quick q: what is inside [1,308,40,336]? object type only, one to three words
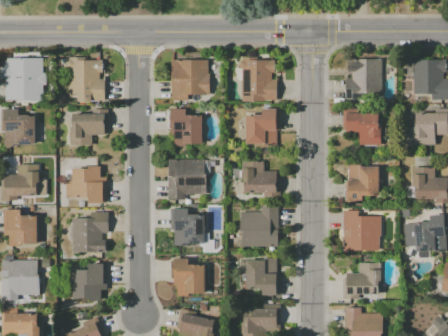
house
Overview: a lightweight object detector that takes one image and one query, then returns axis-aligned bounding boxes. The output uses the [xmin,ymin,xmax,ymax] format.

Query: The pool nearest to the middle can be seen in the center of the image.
[209,172,223,200]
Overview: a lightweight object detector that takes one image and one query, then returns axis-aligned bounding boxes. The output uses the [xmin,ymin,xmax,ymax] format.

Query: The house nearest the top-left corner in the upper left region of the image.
[6,58,46,101]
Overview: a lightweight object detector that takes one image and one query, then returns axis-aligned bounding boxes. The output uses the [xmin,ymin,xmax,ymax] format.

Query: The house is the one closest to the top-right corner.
[414,60,448,99]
